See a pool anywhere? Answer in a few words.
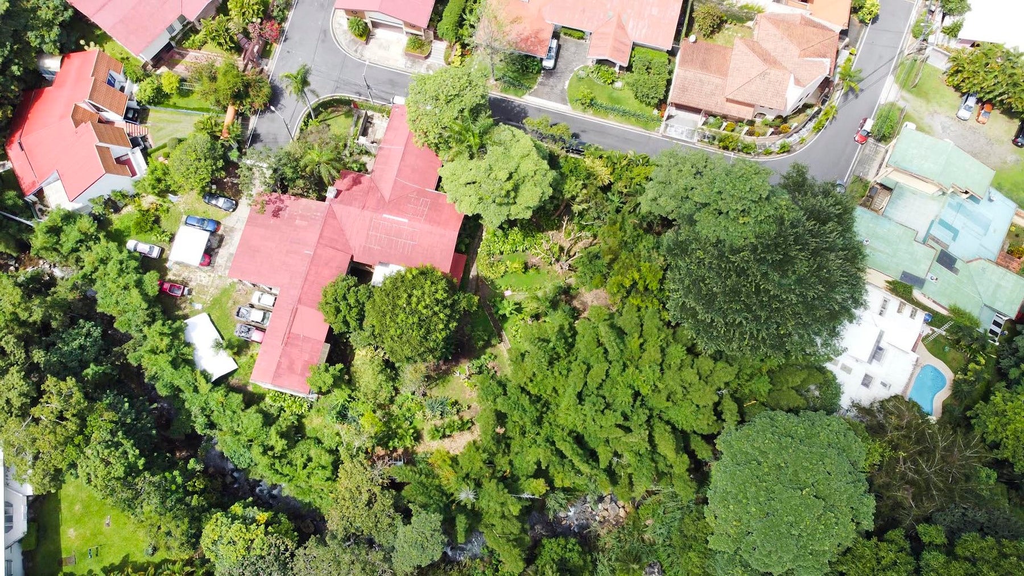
Yes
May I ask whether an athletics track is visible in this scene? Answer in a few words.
No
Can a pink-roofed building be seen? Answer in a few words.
Yes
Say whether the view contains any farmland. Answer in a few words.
No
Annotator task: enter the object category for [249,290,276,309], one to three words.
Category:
car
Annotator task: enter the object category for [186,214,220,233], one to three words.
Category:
car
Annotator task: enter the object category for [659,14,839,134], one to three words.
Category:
house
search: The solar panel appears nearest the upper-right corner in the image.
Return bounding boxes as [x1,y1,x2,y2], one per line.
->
[936,249,958,269]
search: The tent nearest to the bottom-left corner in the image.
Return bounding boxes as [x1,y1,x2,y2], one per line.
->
[185,313,243,380]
